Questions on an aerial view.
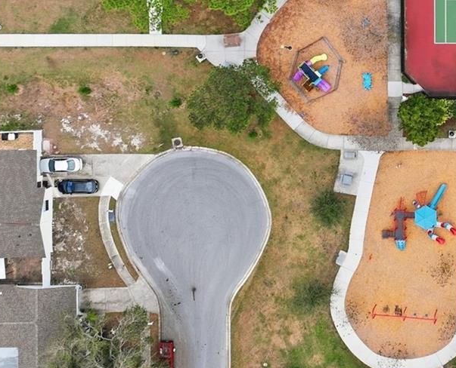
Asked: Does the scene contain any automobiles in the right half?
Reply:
No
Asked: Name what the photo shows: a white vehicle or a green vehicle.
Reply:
white vehicle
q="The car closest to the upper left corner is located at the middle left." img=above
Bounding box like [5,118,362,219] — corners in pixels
[41,157,85,175]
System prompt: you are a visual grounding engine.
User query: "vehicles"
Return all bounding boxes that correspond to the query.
[58,178,102,196]
[41,157,85,175]
[156,339,177,368]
